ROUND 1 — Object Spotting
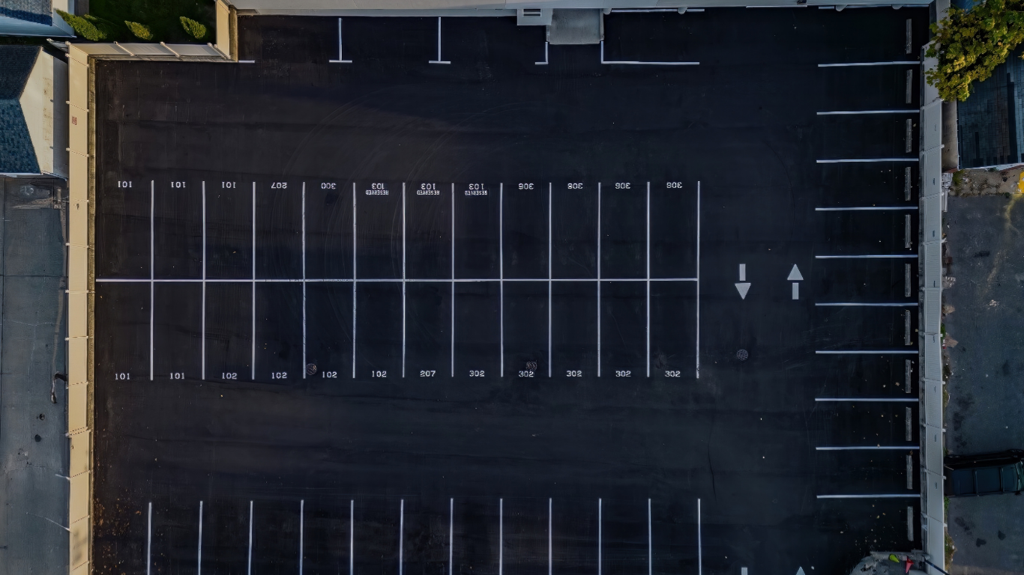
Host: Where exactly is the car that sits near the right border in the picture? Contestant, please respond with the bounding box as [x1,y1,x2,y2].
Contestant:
[945,452,1024,497]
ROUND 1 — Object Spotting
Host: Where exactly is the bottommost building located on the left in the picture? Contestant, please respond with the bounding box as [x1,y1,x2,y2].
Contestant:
[0,45,67,181]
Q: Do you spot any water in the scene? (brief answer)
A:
No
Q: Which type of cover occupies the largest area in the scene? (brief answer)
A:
paved ground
